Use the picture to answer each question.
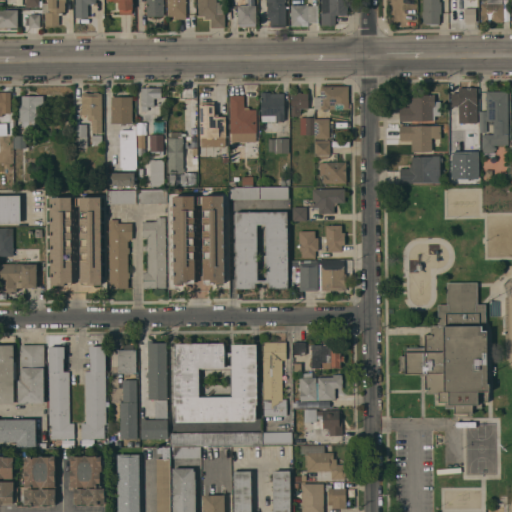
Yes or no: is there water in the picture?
No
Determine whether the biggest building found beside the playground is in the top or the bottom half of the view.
bottom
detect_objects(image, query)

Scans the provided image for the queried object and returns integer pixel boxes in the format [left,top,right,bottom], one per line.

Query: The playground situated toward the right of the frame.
[401,238,455,308]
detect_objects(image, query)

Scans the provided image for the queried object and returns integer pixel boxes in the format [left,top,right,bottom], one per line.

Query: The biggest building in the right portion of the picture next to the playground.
[400,282,489,412]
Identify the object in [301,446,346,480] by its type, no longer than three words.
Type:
house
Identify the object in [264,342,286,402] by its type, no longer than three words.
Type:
building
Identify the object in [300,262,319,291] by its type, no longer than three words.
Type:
building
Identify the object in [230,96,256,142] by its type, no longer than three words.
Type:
house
